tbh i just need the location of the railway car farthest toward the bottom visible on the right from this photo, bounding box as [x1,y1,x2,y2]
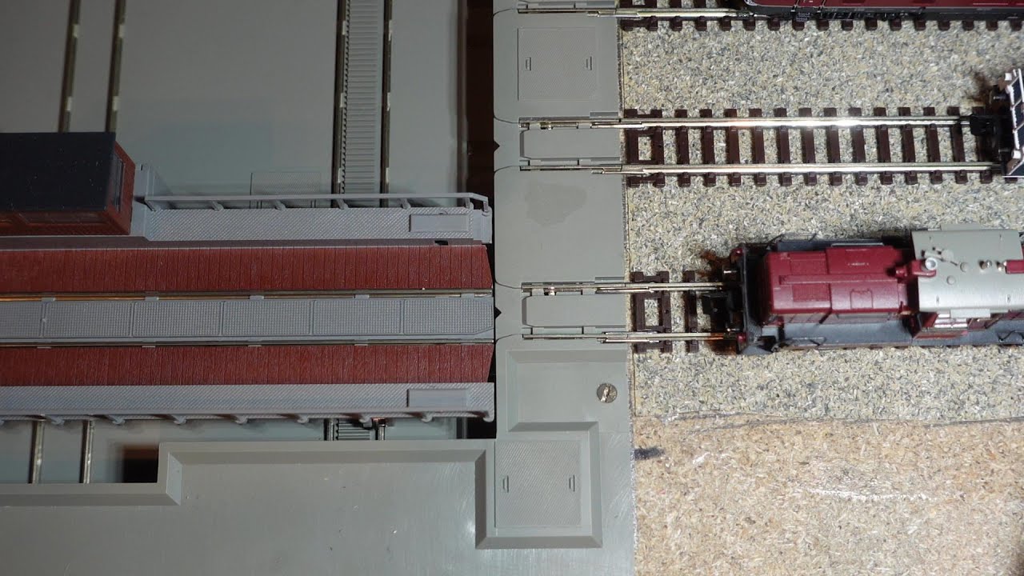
[701,225,1024,360]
